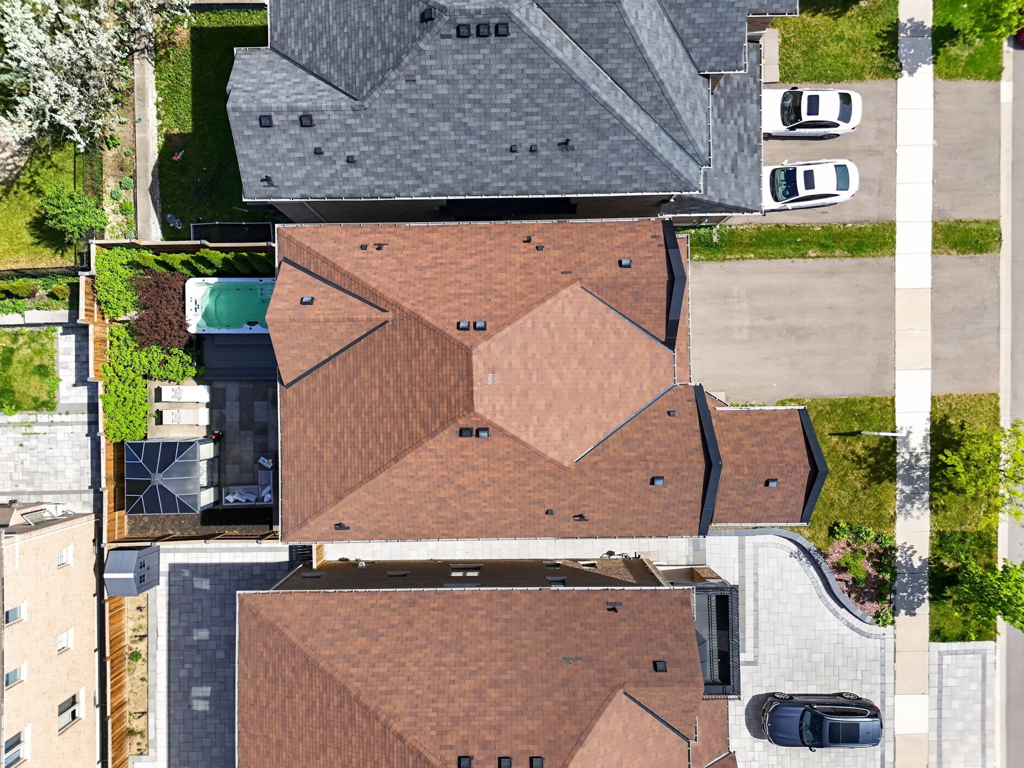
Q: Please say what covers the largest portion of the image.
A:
buildings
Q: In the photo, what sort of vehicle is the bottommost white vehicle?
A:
car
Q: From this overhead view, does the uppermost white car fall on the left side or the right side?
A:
right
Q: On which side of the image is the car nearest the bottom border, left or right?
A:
right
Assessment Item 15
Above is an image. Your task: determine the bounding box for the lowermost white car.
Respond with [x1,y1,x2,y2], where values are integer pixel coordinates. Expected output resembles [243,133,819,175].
[766,157,860,213]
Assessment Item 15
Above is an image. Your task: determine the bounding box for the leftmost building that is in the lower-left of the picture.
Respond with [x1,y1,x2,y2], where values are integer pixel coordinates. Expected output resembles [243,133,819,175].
[0,504,107,768]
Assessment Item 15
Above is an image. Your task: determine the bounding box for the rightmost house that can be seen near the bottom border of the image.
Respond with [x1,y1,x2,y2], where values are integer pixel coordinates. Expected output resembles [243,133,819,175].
[235,553,740,768]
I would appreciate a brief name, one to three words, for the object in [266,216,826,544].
house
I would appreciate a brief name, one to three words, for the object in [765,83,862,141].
car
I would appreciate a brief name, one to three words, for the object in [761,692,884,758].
car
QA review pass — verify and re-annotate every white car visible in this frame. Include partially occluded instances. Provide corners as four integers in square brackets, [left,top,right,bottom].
[765,83,862,141]
[766,157,860,213]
